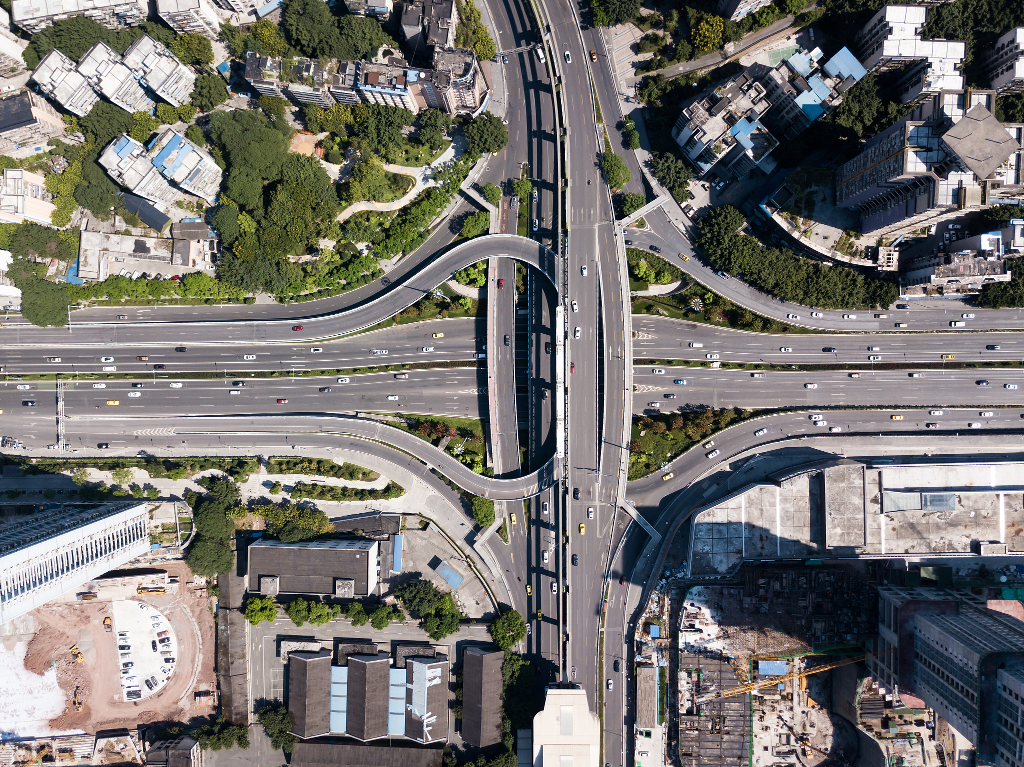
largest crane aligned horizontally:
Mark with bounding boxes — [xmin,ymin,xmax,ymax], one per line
[696,642,896,700]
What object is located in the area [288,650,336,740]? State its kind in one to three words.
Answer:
building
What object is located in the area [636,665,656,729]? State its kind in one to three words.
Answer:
shed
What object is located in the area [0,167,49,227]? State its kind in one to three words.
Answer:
building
